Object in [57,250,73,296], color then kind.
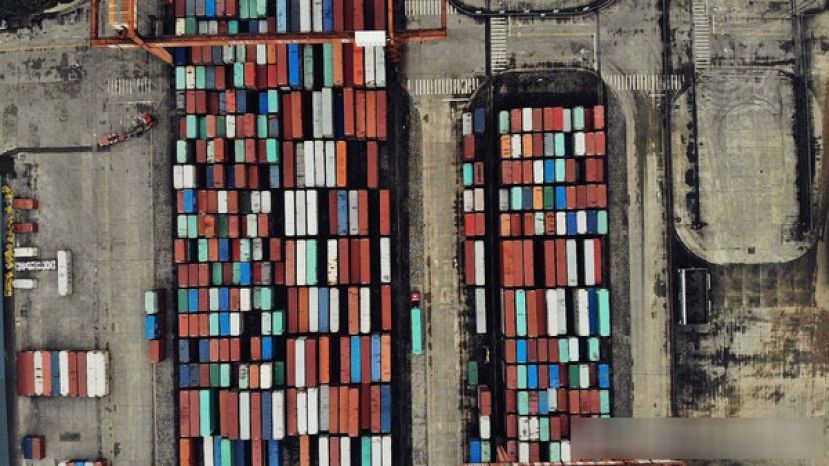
white vehicle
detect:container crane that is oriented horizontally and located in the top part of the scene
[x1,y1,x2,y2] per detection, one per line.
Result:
[91,0,445,74]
